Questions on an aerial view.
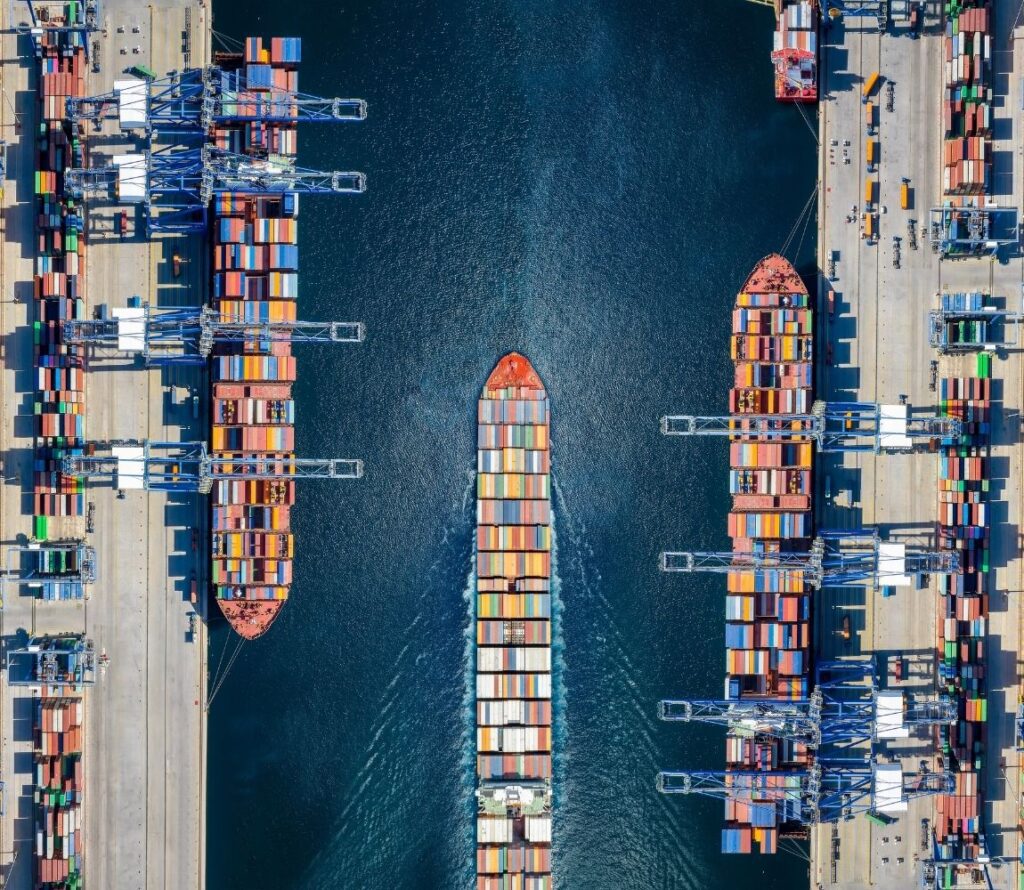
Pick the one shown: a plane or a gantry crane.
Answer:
gantry crane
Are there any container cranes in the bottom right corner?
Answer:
Yes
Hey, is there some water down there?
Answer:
Yes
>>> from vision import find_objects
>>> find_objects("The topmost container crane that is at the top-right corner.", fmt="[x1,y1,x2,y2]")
[811,0,886,20]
